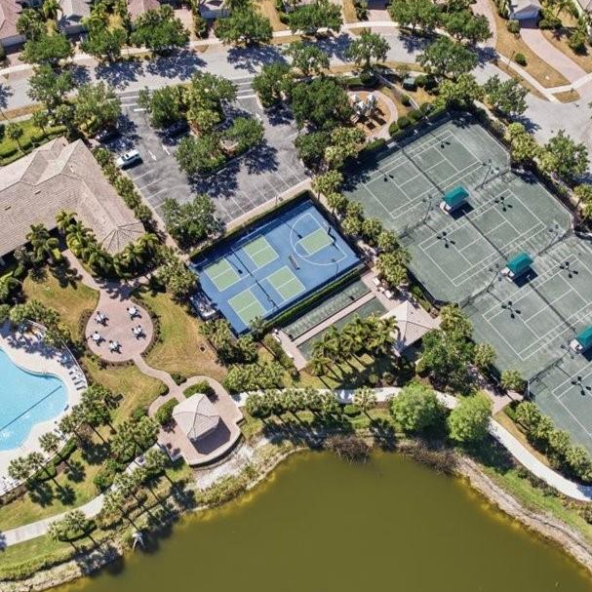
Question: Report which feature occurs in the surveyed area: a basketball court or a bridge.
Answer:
basketball court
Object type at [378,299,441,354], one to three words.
building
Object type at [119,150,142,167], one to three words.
car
